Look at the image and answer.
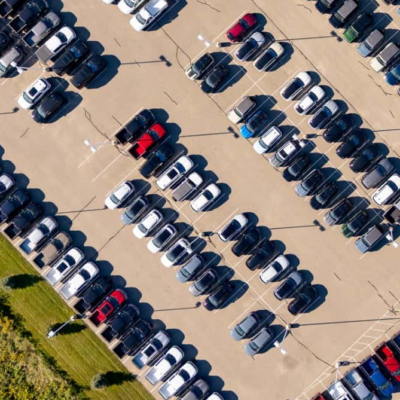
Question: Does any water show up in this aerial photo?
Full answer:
No, no water is visible.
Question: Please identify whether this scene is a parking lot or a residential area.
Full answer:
This looks like a parking lot.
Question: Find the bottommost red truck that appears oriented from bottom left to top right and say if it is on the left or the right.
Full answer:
The bottommost red truck that appears oriented from bottom left to top right appears in the left half of the scene.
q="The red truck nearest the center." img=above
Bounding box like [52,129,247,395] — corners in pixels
[125,121,170,162]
